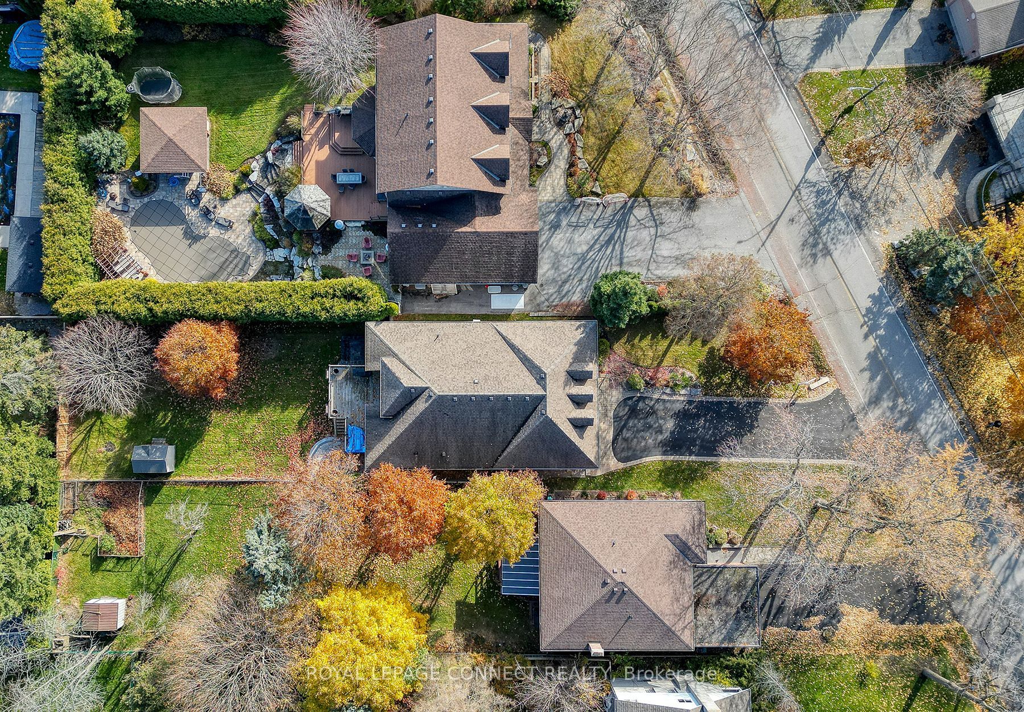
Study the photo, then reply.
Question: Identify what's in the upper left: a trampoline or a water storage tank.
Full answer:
You can see a trampoline in the upper left.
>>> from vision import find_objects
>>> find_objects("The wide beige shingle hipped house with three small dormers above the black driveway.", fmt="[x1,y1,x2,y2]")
[364,319,600,470]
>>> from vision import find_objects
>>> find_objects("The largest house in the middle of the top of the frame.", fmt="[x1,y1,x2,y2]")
[352,14,539,285]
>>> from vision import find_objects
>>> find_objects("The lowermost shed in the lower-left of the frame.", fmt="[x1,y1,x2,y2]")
[82,596,130,632]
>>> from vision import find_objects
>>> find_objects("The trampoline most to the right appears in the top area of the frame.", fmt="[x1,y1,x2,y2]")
[129,63,182,106]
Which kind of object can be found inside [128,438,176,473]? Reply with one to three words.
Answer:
shed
